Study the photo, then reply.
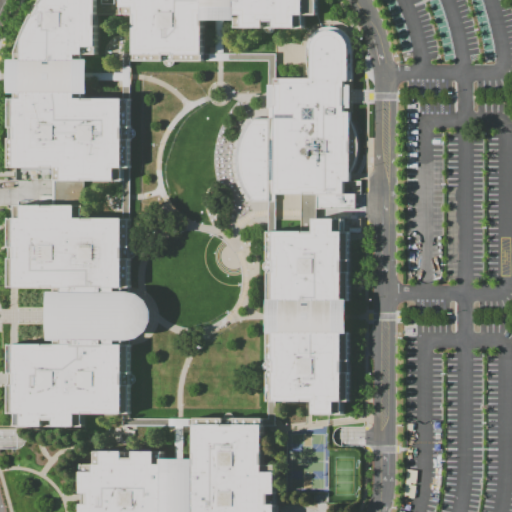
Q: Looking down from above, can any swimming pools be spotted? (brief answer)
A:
No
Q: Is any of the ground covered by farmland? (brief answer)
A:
No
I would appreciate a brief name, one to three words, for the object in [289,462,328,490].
basketball court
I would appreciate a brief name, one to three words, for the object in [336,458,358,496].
sports court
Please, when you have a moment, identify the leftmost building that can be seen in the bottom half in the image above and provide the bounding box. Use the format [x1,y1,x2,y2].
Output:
[5,205,154,427]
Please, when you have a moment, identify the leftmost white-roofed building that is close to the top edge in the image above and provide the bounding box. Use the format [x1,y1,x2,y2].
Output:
[4,0,130,201]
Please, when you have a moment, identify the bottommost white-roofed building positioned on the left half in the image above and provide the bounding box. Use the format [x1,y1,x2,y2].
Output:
[76,414,277,512]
